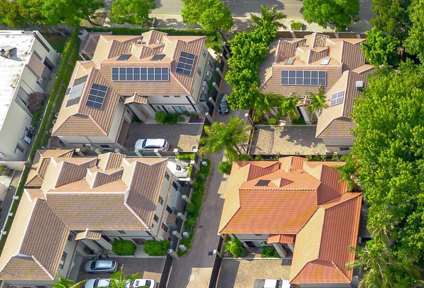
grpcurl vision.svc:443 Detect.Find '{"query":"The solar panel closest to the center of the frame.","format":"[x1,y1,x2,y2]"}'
[177,50,195,76]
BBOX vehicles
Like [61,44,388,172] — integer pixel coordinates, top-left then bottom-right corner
[124,276,163,288]
[215,92,230,118]
[250,276,294,288]
[83,258,120,275]
[135,136,169,151]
